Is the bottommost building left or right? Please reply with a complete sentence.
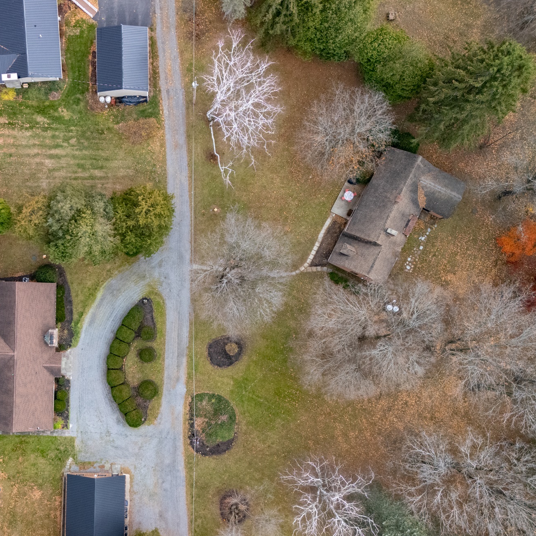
The bottommost building sits on the left side.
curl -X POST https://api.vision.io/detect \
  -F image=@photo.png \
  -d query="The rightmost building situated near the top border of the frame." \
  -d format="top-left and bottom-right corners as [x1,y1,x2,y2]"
[96,24,148,96]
